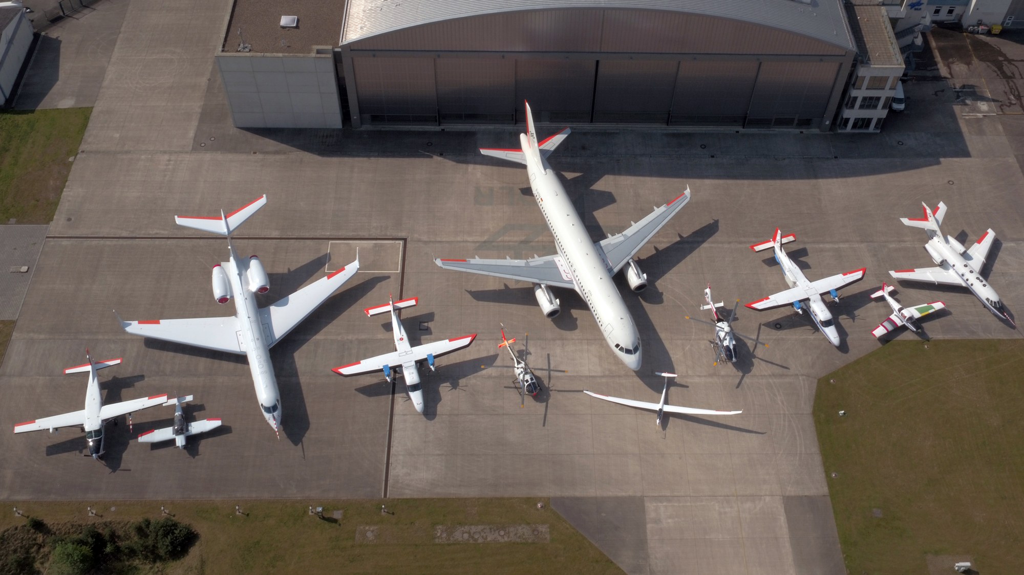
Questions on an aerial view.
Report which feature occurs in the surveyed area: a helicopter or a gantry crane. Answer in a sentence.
There is a helicopter in the scene.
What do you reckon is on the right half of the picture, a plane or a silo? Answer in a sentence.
There is a plane on the right half of the picture.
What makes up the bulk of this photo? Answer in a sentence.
The scene is dominated by paved ground.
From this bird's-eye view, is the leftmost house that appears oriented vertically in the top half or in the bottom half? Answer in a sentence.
You can find the leftmost house that appears oriented vertically in the top half.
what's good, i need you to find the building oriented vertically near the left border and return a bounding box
[0,8,45,106]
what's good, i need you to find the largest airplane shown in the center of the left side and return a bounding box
[112,195,359,440]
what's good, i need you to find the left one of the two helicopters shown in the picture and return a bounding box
[482,322,568,407]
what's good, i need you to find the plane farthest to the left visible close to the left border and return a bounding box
[14,350,167,460]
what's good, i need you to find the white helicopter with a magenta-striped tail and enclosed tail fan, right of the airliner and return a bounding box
[685,283,770,365]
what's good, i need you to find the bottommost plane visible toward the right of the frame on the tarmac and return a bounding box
[583,372,744,432]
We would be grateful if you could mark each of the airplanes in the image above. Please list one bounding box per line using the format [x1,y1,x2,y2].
[112,195,359,440]
[139,391,221,450]
[583,372,744,432]
[871,283,944,338]
[14,350,167,460]
[331,294,476,413]
[434,101,690,370]
[742,230,864,346]
[891,201,1013,328]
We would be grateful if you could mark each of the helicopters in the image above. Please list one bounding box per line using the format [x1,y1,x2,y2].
[482,322,568,407]
[685,283,770,365]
